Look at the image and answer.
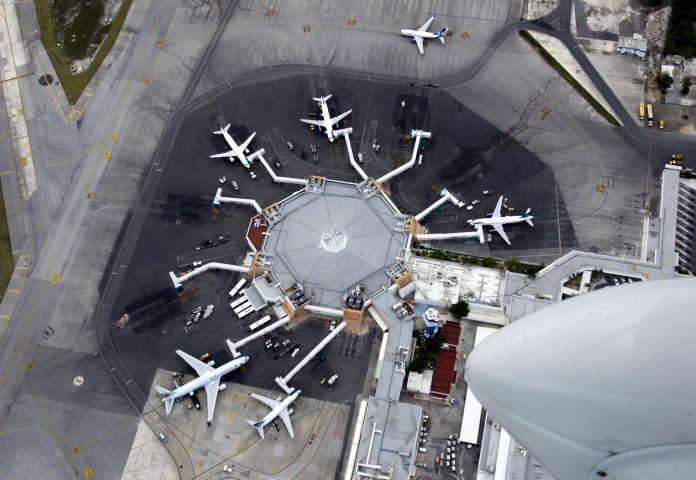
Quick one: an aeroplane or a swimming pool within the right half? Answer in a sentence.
The one visible within the right half is an aeroplane.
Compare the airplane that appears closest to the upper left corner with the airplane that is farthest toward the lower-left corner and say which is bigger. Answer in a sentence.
Compared with the airplane that appears closest to the upper left corner, the airplane that is farthest toward the lower-left corner is the bigger one.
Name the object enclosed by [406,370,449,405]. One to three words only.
shed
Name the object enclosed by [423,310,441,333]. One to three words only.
building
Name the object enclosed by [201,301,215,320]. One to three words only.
vehicle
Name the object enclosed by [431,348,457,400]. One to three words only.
shed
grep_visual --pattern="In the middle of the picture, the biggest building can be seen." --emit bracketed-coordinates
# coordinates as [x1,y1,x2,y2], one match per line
[246,174,420,328]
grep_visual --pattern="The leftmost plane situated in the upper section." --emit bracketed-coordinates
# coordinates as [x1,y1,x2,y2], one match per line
[205,121,256,167]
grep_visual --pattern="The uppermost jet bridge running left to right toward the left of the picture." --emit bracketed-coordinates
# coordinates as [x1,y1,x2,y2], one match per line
[213,188,263,213]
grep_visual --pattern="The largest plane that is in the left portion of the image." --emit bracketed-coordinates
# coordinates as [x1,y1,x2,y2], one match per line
[156,347,249,418]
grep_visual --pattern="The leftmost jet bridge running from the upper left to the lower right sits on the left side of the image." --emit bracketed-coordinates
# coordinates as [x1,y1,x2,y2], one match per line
[246,150,302,188]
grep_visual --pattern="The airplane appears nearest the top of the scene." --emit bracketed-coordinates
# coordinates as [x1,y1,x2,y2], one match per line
[398,14,447,52]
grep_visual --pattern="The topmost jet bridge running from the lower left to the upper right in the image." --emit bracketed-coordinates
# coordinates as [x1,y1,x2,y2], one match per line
[376,130,431,185]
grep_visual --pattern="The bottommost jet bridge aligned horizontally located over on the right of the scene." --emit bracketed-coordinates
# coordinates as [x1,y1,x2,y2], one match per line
[414,223,485,245]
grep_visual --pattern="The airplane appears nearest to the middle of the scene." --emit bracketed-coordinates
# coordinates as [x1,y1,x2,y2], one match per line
[298,92,352,142]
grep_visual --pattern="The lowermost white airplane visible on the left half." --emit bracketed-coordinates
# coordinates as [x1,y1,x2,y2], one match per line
[250,390,302,438]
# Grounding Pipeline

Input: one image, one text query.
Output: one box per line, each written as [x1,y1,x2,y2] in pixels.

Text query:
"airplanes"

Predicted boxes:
[205,121,256,167]
[156,347,249,418]
[298,92,352,142]
[466,279,696,480]
[250,390,302,438]
[470,196,534,243]
[398,14,447,52]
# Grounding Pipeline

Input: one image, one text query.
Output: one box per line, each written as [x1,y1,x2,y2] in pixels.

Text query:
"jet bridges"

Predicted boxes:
[332,128,366,180]
[376,130,431,185]
[169,262,249,292]
[246,150,302,188]
[274,322,347,396]
[226,315,290,360]
[213,188,263,213]
[414,223,485,245]
[413,186,462,220]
